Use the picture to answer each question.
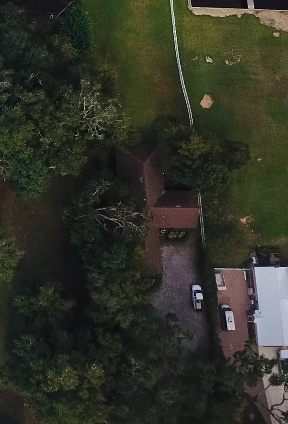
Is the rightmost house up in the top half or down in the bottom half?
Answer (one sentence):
It is in the bottom half that the rightmost house appears.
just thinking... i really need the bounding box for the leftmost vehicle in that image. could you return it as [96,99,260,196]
[190,284,204,311]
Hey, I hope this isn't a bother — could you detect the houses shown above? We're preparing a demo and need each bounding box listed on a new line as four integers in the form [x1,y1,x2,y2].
[248,253,288,347]
[111,144,199,274]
